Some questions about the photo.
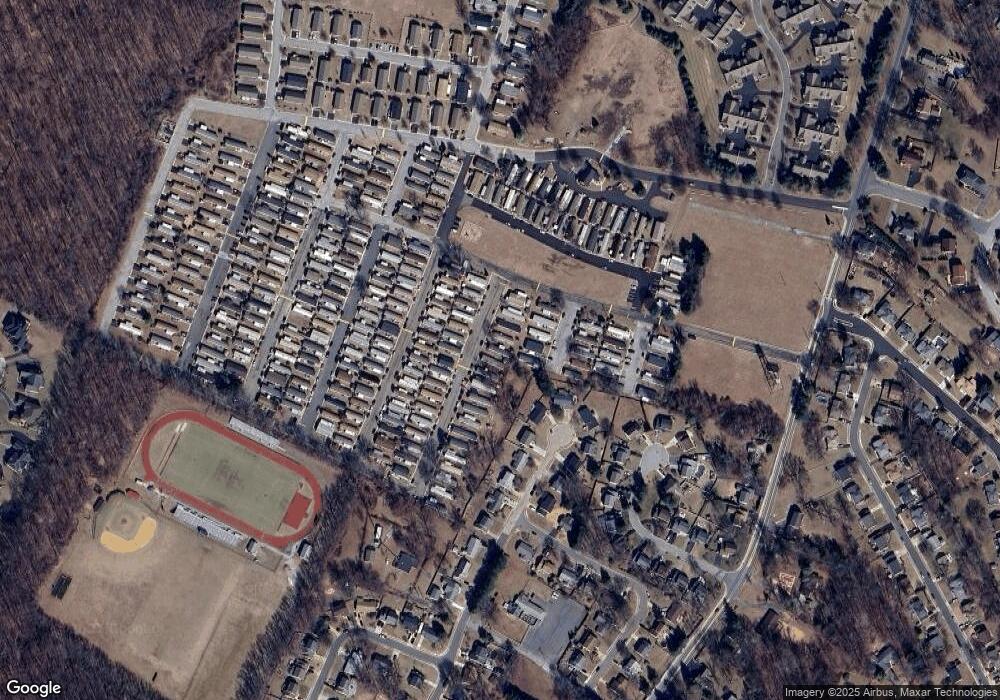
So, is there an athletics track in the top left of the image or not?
No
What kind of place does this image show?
residential area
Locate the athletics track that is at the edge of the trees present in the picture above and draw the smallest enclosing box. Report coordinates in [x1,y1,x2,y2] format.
[142,410,322,543]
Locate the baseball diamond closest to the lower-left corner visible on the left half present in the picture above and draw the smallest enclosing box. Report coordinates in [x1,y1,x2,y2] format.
[96,491,157,552]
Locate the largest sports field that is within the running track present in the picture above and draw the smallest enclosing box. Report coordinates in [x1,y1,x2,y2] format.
[158,419,304,531]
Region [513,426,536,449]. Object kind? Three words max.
house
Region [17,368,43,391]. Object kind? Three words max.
house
